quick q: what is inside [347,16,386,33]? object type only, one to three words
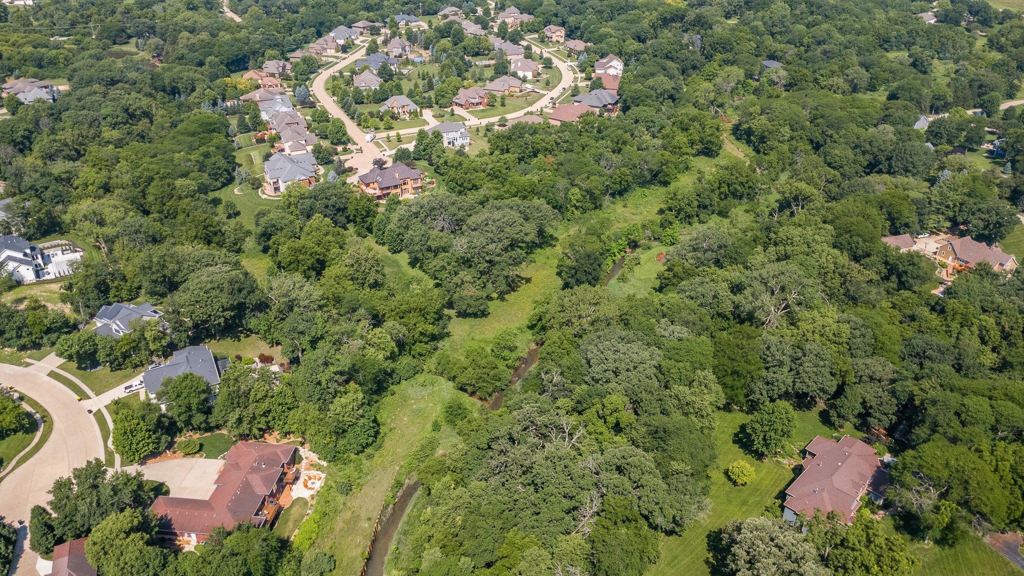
house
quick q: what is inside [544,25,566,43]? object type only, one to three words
house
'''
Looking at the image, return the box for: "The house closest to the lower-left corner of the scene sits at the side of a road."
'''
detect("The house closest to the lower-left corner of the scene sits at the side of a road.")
[45,536,90,576]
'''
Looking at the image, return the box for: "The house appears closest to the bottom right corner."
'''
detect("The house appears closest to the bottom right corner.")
[783,435,890,546]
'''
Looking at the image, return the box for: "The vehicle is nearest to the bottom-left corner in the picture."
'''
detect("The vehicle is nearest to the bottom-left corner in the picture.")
[121,380,145,393]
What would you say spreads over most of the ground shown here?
trees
